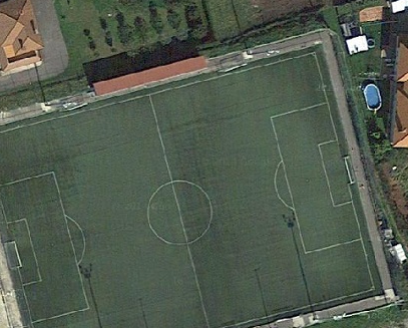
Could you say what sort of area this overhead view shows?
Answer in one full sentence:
The area seen from above is a sports ground.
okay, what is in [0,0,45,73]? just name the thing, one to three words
house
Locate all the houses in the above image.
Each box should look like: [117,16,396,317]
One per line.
[386,0,408,13]
[0,0,45,73]
[387,42,408,148]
